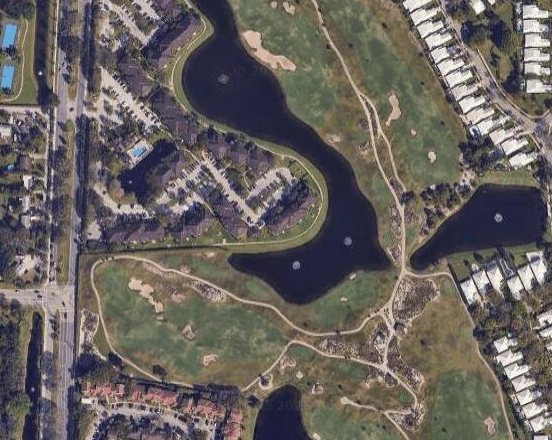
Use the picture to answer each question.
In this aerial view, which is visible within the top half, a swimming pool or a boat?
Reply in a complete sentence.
It is a swimming pool that can be seen within the top half.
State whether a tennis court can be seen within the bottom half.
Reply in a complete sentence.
No, there's no tennis court to be seen within the bottom half.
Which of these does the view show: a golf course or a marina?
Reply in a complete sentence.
This image shows a golf course.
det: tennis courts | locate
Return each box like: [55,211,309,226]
[0,20,19,50]
[0,61,18,94]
